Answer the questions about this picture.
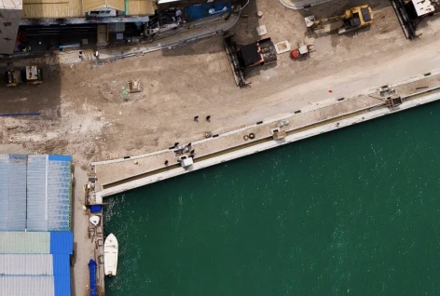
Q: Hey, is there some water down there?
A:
Yes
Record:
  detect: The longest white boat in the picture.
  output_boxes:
[104,234,119,279]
